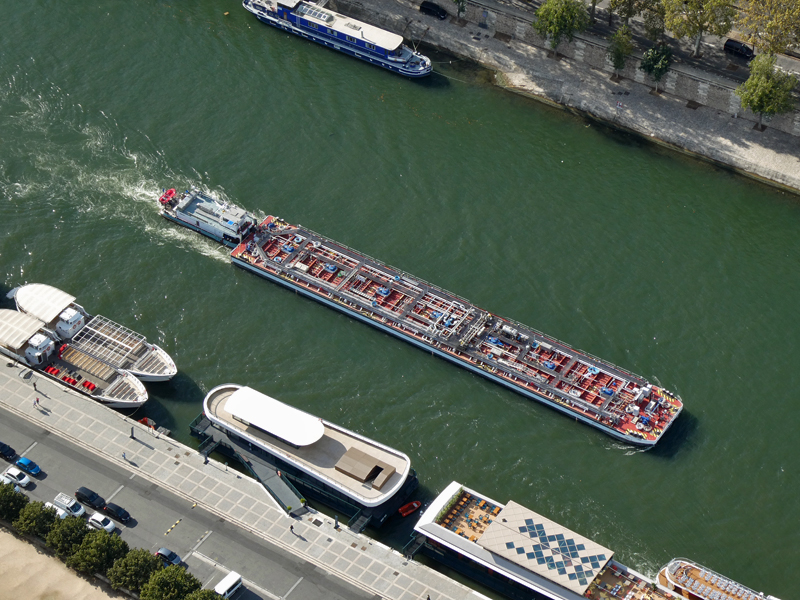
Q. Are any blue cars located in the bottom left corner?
Yes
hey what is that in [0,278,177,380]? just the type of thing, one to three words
boat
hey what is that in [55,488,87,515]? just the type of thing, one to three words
vehicle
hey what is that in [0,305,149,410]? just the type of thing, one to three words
boat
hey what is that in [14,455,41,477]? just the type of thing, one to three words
car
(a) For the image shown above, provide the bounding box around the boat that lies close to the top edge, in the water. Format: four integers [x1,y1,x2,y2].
[245,0,434,84]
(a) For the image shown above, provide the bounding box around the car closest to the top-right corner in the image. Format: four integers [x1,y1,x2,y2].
[724,40,752,59]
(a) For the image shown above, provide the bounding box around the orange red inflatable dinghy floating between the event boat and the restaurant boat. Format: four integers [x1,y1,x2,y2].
[399,502,420,518]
